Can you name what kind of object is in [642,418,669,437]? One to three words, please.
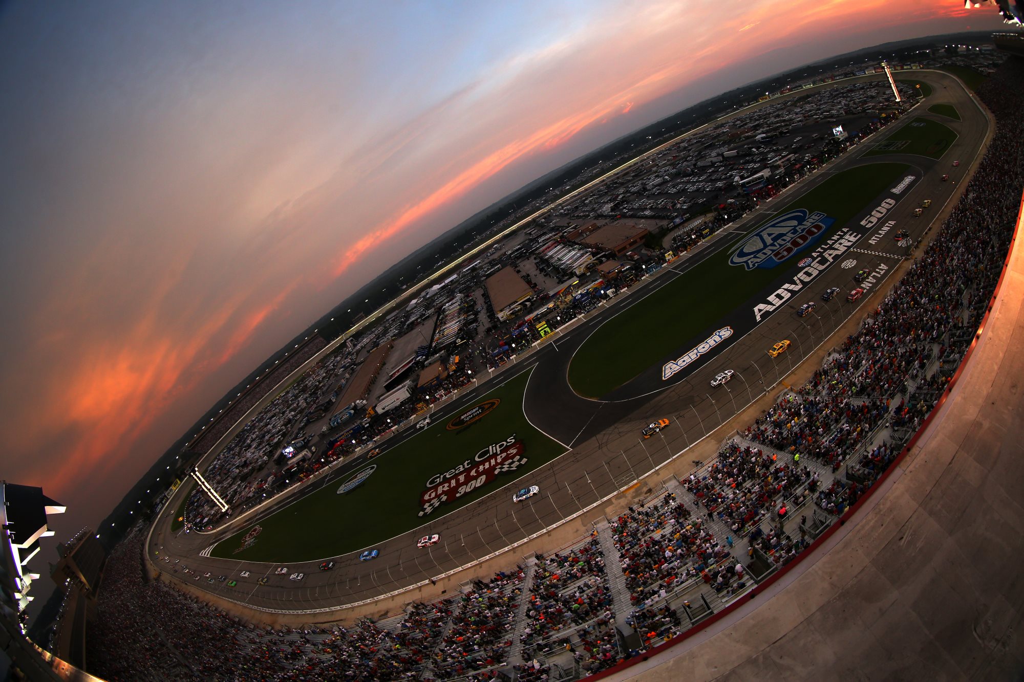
car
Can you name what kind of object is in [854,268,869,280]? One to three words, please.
vehicle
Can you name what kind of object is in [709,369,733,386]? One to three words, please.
car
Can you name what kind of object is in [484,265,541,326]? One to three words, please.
building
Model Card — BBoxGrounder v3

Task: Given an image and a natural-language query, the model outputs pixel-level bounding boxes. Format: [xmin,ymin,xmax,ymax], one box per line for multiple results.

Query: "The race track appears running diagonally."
[145,70,987,610]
